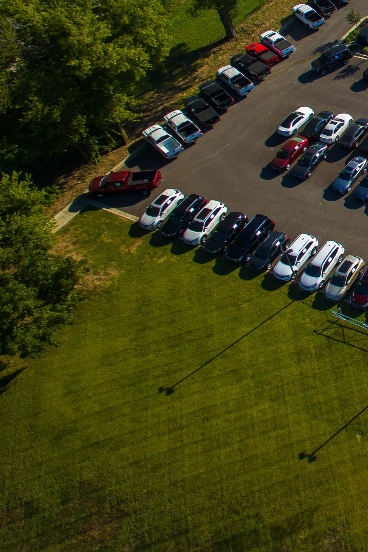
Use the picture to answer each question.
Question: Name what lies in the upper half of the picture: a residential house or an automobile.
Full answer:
You can see an automobile in the upper half of the picture.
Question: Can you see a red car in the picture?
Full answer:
Yes, the picture does show a red car.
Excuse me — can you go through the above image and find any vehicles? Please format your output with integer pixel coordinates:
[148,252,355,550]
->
[299,112,337,146]
[145,123,186,163]
[306,0,340,19]
[317,113,356,147]
[271,135,310,174]
[298,241,346,294]
[275,107,317,141]
[249,229,293,274]
[217,66,255,99]
[182,201,230,246]
[292,3,327,31]
[357,136,368,159]
[226,209,279,264]
[204,211,249,256]
[261,30,298,60]
[331,156,368,198]
[139,188,187,231]
[95,172,160,199]
[233,53,270,85]
[272,232,321,285]
[337,117,368,153]
[199,79,238,115]
[323,254,368,304]
[291,142,331,182]
[162,194,209,238]
[247,39,283,70]
[183,94,223,130]
[164,108,205,147]
[309,42,355,75]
